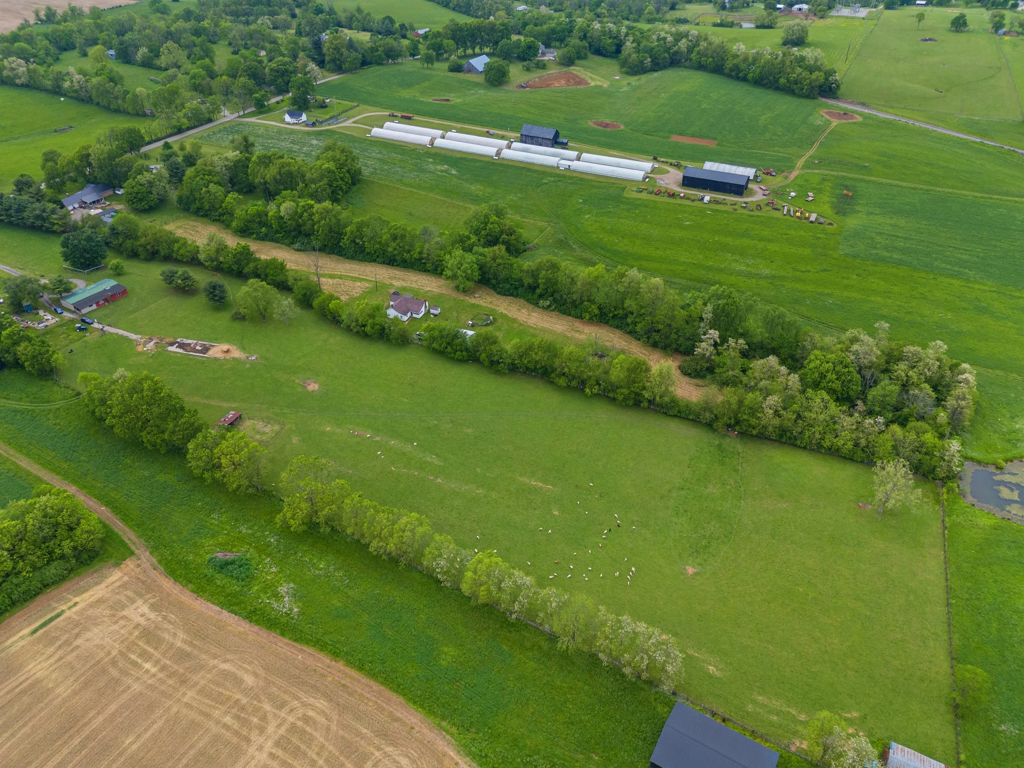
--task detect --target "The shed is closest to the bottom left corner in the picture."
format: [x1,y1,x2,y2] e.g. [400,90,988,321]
[213,405,244,430]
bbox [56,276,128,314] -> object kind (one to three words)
house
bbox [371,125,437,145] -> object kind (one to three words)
greenhouse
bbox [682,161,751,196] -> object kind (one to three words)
barn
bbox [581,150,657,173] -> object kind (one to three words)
greenhouse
